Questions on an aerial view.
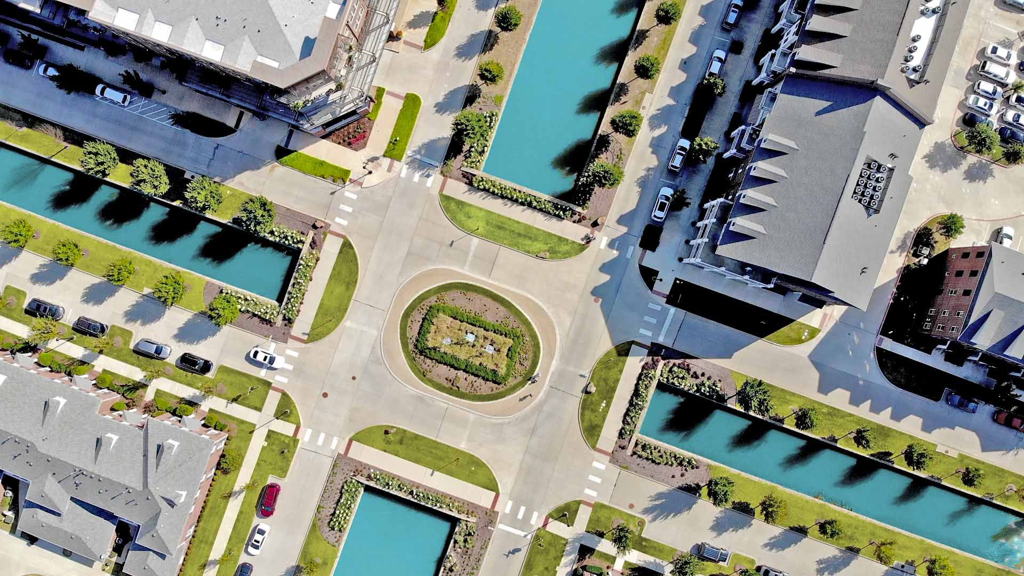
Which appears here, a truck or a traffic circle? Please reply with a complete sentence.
Visible in the photo is a traffic circle.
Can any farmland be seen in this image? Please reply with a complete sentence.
No, farmland can't be seen anywhere here.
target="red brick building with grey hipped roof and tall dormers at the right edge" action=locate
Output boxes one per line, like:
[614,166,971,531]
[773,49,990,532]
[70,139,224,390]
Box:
[909,241,1024,383]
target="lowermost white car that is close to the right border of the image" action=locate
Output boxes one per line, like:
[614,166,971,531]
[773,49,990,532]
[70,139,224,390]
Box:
[995,220,1017,247]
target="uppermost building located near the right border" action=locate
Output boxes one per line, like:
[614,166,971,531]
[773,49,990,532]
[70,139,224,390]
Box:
[682,0,979,309]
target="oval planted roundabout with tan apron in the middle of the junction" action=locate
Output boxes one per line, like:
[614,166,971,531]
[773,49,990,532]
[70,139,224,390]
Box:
[380,266,560,419]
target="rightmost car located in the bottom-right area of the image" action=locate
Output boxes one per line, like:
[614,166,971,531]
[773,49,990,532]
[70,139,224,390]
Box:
[991,408,1024,430]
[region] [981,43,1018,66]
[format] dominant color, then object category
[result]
white car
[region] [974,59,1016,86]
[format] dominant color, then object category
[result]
white car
